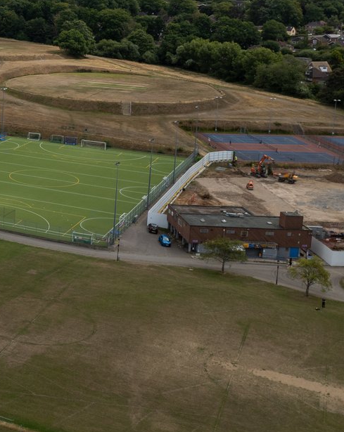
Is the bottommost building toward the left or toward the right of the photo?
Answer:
right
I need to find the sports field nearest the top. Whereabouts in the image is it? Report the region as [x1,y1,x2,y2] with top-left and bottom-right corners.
[0,136,191,243]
